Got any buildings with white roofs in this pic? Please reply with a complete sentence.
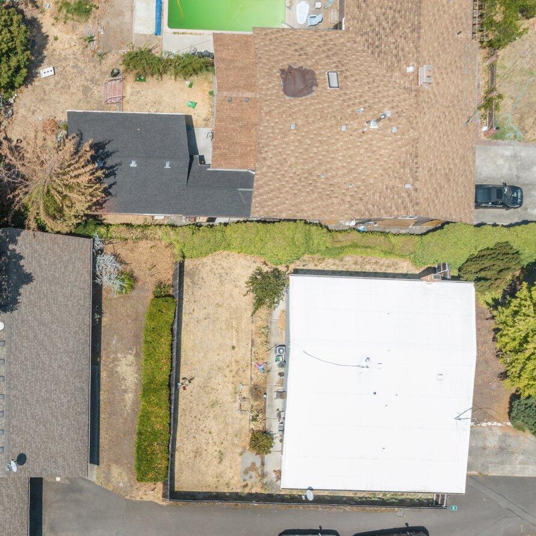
Yes, the image includes a building with a white roof.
